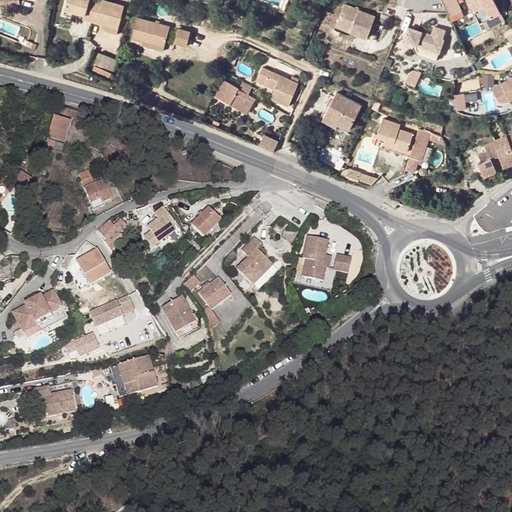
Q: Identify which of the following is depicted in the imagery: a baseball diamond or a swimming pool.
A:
swimming pool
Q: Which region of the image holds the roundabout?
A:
right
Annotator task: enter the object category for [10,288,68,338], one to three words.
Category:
house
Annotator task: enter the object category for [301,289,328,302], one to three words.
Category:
swimming pool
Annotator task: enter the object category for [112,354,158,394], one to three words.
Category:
house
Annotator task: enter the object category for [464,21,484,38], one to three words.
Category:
swimming pool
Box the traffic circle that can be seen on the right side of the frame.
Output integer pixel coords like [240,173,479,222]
[385,228,468,310]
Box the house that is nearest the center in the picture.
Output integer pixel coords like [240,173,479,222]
[238,236,279,288]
